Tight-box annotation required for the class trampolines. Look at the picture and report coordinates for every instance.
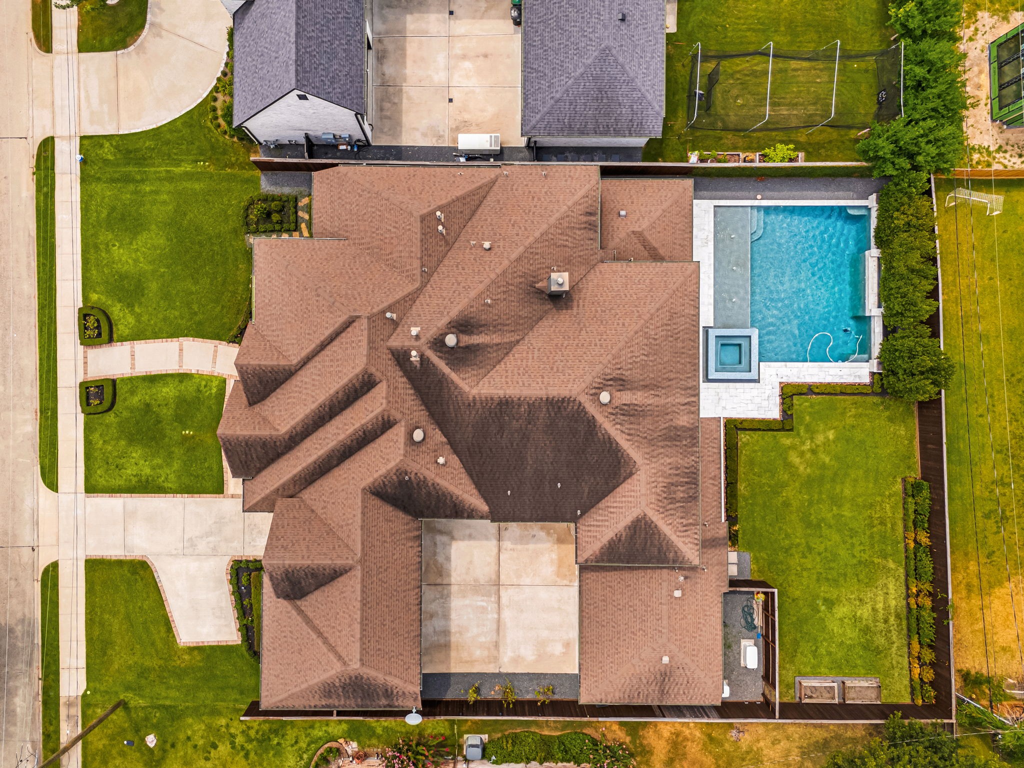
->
[980,23,1024,126]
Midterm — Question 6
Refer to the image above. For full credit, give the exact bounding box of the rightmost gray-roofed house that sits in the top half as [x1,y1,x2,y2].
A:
[520,0,667,149]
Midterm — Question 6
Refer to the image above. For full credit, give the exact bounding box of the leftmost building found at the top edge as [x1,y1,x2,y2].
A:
[222,0,375,147]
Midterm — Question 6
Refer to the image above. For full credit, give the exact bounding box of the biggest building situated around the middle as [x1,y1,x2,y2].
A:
[217,163,730,711]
